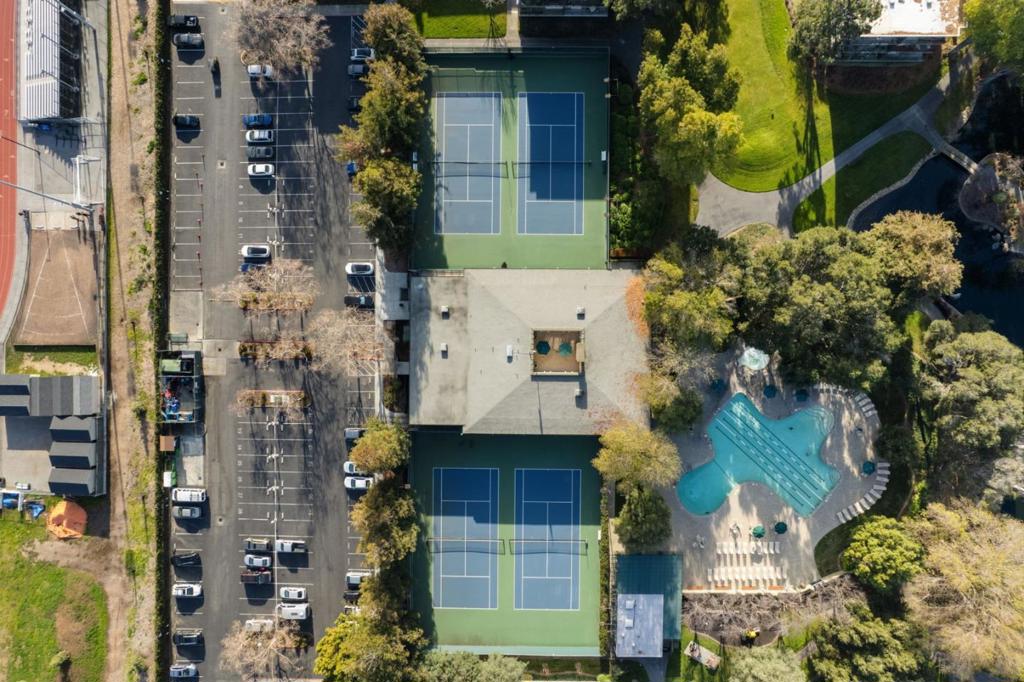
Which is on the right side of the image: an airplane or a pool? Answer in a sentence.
The one visible on the right side of the image is a pool.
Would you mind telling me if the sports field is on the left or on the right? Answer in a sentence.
The sports field appears in the left half of the scene.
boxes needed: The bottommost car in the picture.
[170,663,201,679]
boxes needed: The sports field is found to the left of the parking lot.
[14,209,97,345]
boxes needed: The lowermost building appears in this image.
[613,550,683,657]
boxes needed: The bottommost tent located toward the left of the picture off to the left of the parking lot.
[49,501,87,537]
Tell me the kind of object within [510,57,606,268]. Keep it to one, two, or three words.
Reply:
tennis court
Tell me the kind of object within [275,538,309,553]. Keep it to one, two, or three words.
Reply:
vehicle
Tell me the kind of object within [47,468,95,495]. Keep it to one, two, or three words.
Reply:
shed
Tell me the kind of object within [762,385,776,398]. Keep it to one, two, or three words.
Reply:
umbrella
